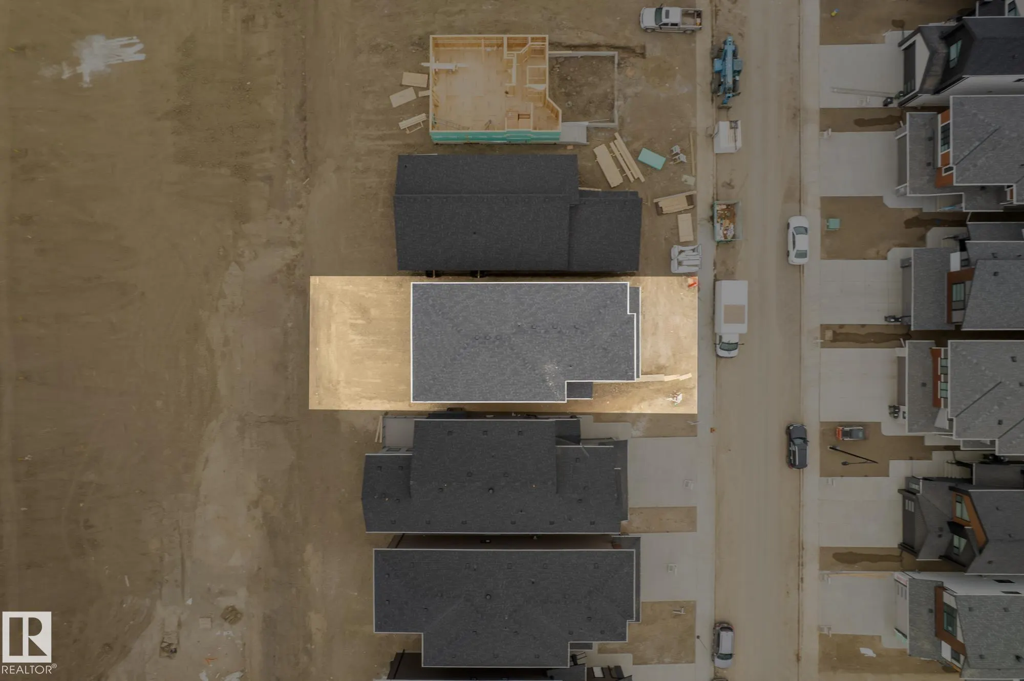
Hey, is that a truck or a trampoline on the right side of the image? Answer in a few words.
truck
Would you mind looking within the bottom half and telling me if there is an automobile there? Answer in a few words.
Yes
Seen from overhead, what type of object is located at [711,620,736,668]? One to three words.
car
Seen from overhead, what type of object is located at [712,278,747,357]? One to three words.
truck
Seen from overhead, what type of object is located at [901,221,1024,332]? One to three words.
house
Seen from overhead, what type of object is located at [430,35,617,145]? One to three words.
house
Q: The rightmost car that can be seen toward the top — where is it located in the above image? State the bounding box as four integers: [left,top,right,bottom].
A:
[785,216,810,265]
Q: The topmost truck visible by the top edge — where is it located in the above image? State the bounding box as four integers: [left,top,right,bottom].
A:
[638,2,703,35]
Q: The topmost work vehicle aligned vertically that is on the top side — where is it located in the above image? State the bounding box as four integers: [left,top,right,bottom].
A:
[709,37,744,122]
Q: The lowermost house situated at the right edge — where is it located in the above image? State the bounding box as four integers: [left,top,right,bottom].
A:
[894,573,1024,681]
